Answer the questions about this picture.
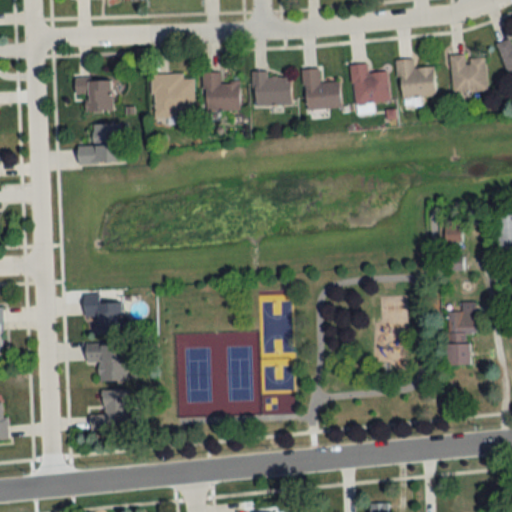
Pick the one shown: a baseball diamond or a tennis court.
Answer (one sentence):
I can see a tennis court in this picture.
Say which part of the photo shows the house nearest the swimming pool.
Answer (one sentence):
The house nearest the swimming pool is located in the left region of the scene.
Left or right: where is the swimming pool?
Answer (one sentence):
It is on the left.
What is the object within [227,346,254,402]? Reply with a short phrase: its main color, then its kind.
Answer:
blue tennis court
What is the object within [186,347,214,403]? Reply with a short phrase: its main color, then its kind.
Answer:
blue tennis court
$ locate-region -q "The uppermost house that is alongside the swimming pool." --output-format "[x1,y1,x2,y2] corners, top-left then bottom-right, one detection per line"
[82,292,122,326]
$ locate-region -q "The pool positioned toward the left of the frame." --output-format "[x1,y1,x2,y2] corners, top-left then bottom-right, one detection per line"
[129,300,150,320]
